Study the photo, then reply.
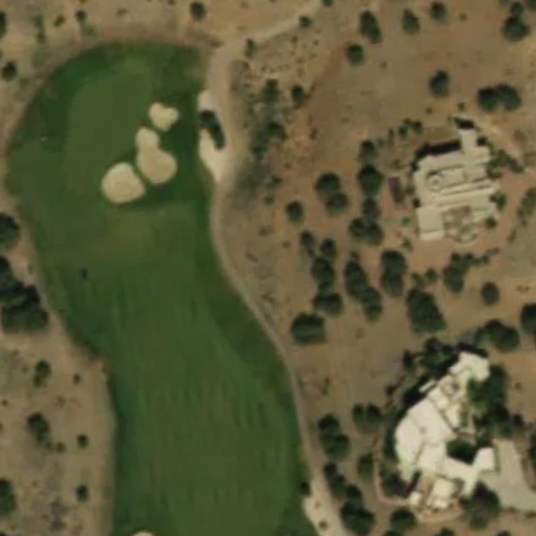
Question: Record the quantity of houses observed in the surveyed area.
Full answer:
Altogether the scene contains 2 houses.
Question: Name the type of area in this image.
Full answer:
The area seen from above is a golf course.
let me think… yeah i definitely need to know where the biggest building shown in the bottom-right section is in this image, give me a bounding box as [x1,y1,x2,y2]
[395,352,494,517]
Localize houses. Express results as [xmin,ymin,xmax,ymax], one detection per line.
[395,352,494,517]
[413,128,499,244]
